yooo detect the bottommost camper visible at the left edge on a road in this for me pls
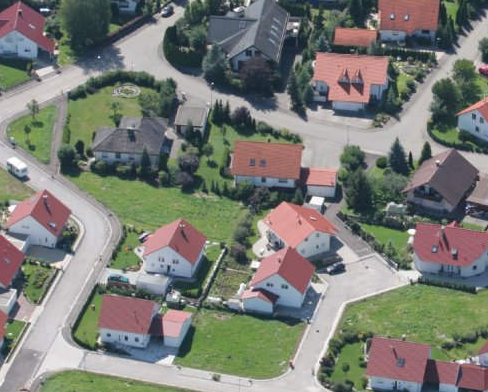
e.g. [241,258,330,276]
[4,155,30,178]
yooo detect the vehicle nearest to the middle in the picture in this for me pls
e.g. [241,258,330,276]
[323,260,350,276]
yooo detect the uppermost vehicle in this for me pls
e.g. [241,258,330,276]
[159,5,176,17]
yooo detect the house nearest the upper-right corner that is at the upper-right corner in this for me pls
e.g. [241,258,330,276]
[378,0,440,41]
